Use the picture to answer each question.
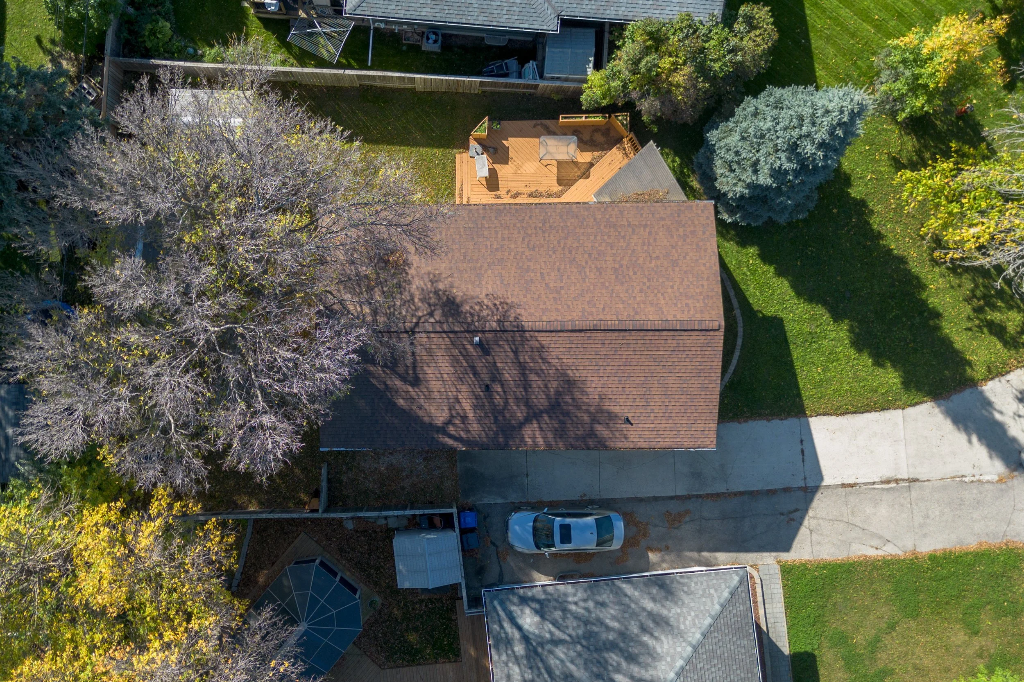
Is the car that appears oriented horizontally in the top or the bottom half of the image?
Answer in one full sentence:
Seen from above, the car that appears oriented horizontally lies in the bottom half of the view.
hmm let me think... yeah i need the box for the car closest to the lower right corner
[504,505,623,563]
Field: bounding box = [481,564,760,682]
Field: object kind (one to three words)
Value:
house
